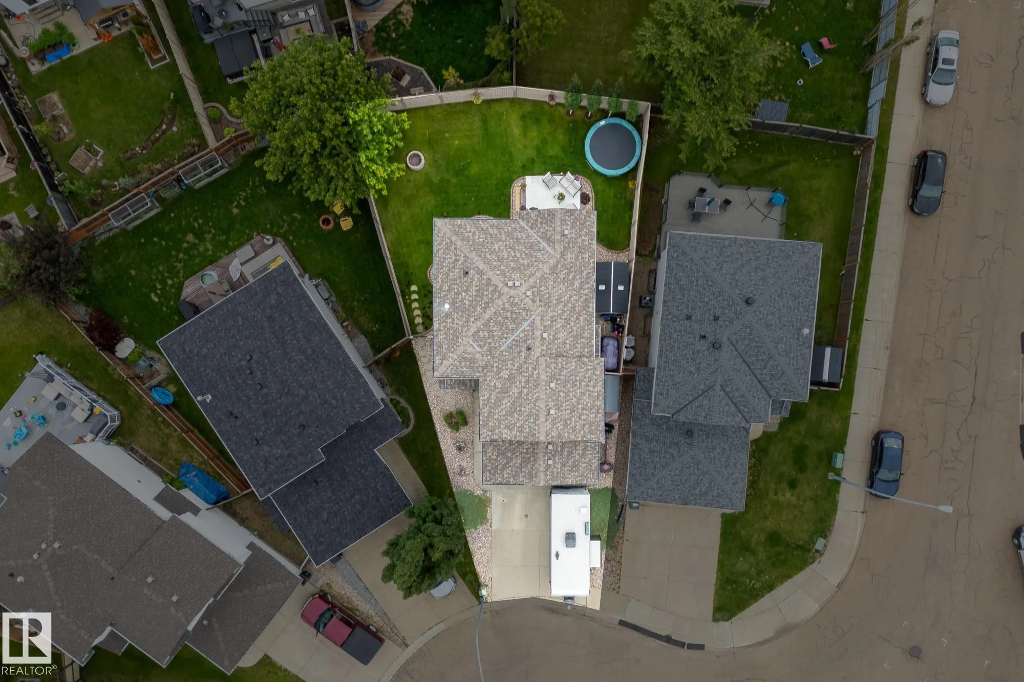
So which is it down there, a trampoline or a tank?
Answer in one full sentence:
Of the two, only a trampoline appears.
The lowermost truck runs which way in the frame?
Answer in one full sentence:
What the image shows is the lowermost truck lying diagonally.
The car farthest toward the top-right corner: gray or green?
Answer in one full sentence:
From above, the car farthest toward the top-right corner appears gray.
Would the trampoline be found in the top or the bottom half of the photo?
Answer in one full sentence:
Seen from above, the trampoline lies in the top half of the view.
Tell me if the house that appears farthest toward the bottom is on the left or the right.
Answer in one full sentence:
It is on the left.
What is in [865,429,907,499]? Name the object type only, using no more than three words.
car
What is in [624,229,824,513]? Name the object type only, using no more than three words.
house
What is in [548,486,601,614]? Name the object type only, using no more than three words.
trailer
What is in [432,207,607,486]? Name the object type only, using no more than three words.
house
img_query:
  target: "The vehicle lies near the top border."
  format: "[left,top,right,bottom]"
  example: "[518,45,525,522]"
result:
[917,27,961,108]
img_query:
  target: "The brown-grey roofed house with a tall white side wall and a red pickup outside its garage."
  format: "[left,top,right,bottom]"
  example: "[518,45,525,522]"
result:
[0,432,304,674]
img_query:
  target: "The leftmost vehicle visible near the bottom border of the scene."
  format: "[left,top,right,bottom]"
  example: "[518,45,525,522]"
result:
[305,596,380,667]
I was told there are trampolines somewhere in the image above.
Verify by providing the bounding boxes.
[584,117,642,176]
